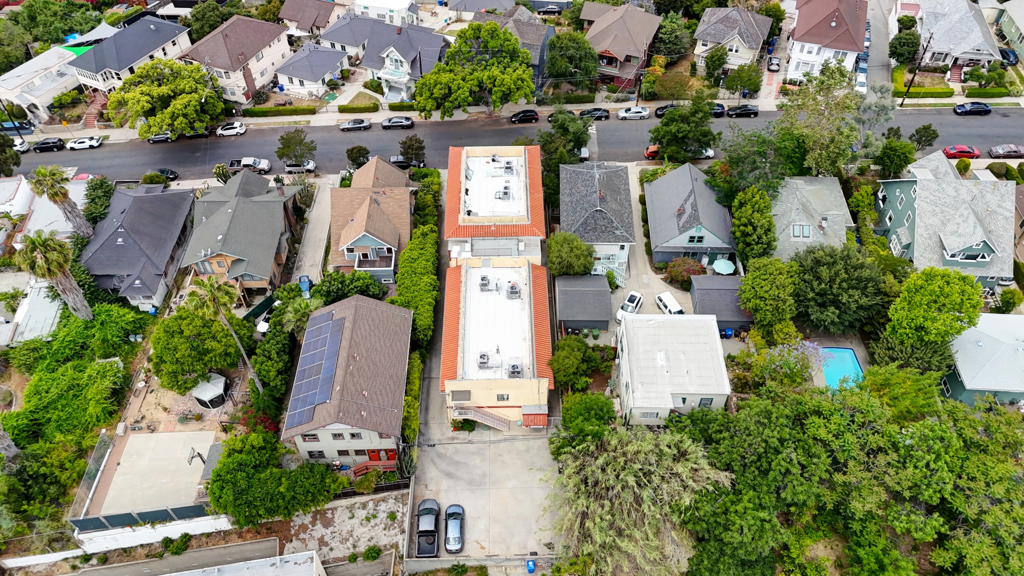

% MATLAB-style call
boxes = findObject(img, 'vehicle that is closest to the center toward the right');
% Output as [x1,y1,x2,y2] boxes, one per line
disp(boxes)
[615,287,642,322]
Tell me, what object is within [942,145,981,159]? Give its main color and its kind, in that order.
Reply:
red car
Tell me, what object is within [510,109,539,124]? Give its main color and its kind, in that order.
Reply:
black car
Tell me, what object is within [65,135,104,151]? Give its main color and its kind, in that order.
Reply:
white car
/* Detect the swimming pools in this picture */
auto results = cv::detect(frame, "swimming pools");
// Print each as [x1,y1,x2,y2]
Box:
[819,345,866,396]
